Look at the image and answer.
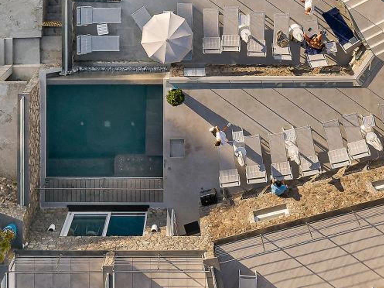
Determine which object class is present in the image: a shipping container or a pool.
pool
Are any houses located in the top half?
No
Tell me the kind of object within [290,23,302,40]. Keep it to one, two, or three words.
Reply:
umbrella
